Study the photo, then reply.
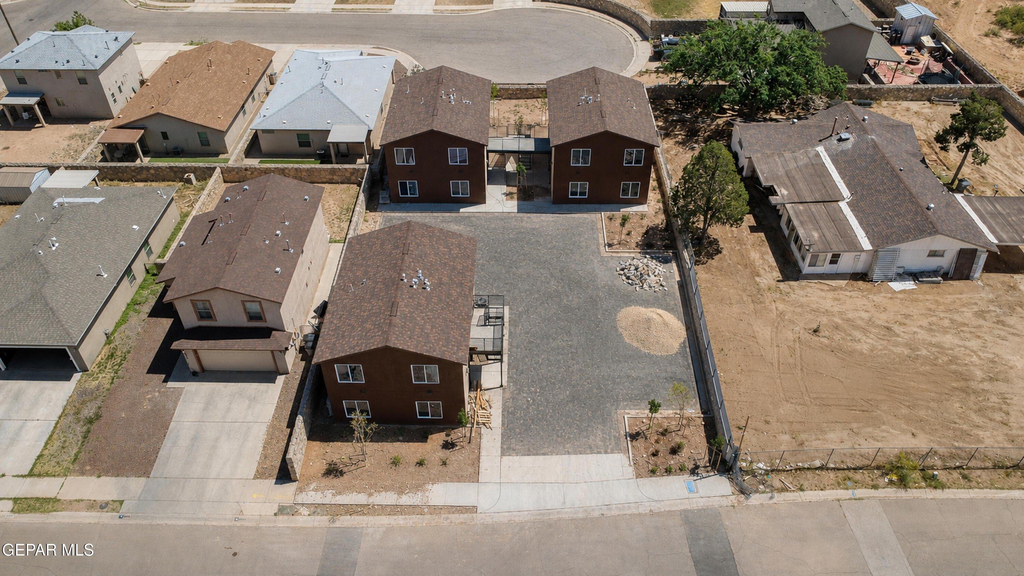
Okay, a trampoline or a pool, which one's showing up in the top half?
trampoline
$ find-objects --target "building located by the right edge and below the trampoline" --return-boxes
[734,101,1024,278]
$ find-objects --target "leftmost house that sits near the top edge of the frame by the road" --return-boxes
[0,22,144,127]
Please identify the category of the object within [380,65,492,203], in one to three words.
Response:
building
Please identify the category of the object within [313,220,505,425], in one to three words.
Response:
building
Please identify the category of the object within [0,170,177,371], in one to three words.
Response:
house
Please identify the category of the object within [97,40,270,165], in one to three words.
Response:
house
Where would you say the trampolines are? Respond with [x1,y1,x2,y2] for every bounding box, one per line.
[924,60,972,85]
